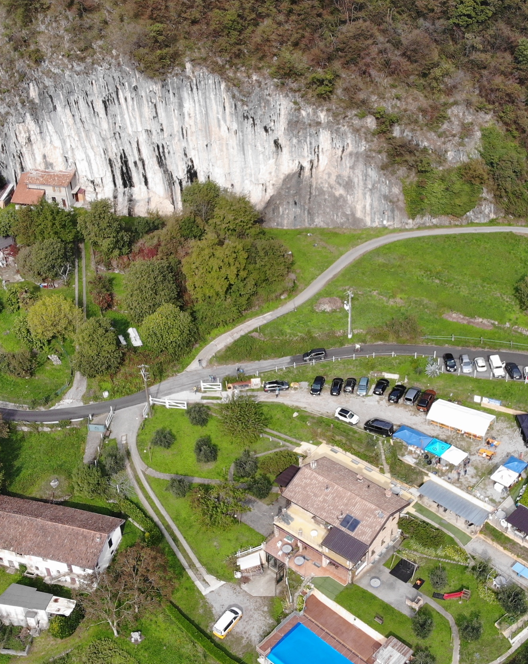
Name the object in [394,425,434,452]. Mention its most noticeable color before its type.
blue tent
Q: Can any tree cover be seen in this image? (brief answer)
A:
Yes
